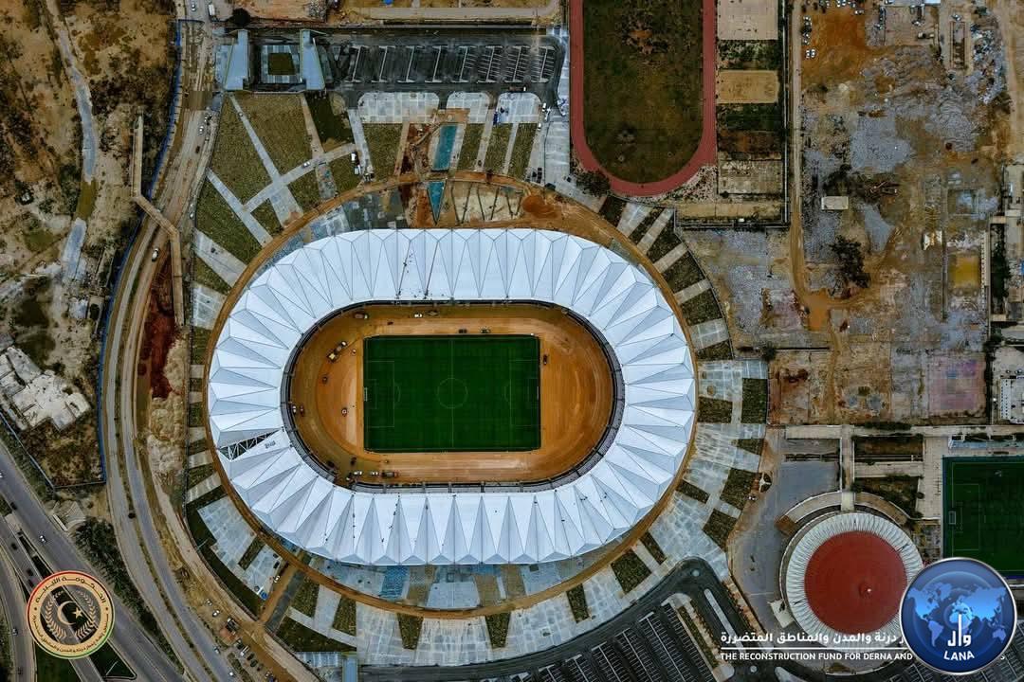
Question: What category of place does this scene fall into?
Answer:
sports ground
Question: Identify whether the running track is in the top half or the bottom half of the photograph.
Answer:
top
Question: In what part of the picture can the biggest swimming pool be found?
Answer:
top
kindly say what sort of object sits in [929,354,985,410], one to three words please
sports court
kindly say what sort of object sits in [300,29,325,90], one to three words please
building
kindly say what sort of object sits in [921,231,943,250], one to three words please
building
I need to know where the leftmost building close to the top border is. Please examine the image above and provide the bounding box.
[224,29,251,90]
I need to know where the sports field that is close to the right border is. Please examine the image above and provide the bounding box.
[942,455,1024,579]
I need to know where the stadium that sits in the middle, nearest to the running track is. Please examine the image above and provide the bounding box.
[208,228,694,566]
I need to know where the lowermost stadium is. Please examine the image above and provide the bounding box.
[760,503,925,656]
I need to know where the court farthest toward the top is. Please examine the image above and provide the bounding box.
[718,0,778,39]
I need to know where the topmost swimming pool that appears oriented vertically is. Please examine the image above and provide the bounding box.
[432,125,457,170]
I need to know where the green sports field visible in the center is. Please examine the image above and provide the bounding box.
[363,335,541,453]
